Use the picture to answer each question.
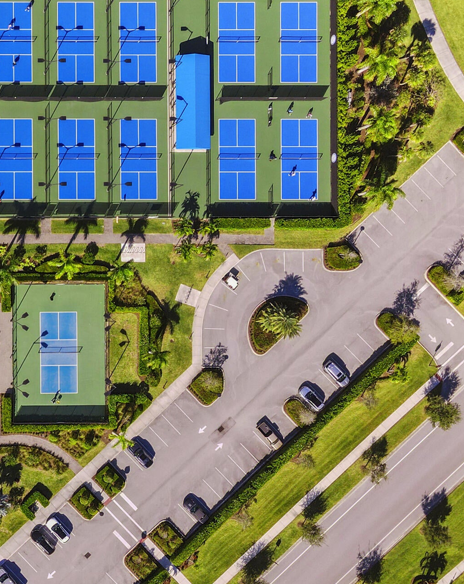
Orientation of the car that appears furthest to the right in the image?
diagonally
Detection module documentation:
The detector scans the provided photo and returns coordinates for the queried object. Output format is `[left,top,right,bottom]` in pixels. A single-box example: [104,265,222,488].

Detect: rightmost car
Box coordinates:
[323,357,348,386]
